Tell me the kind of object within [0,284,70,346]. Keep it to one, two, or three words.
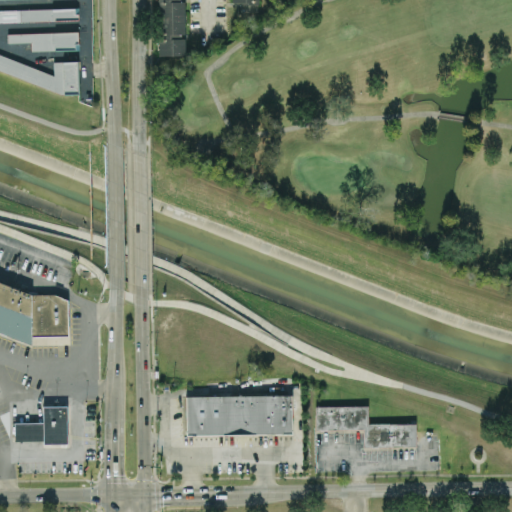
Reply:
building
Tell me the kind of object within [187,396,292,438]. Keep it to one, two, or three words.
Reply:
building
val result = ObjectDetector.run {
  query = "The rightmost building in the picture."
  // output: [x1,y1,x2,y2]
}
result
[316,406,417,450]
